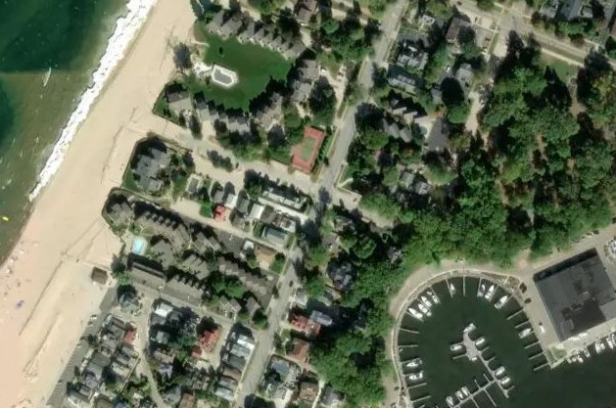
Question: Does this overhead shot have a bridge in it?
No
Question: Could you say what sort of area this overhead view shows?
residential area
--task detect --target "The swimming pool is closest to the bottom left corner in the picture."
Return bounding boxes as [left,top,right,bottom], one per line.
[130,234,147,254]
